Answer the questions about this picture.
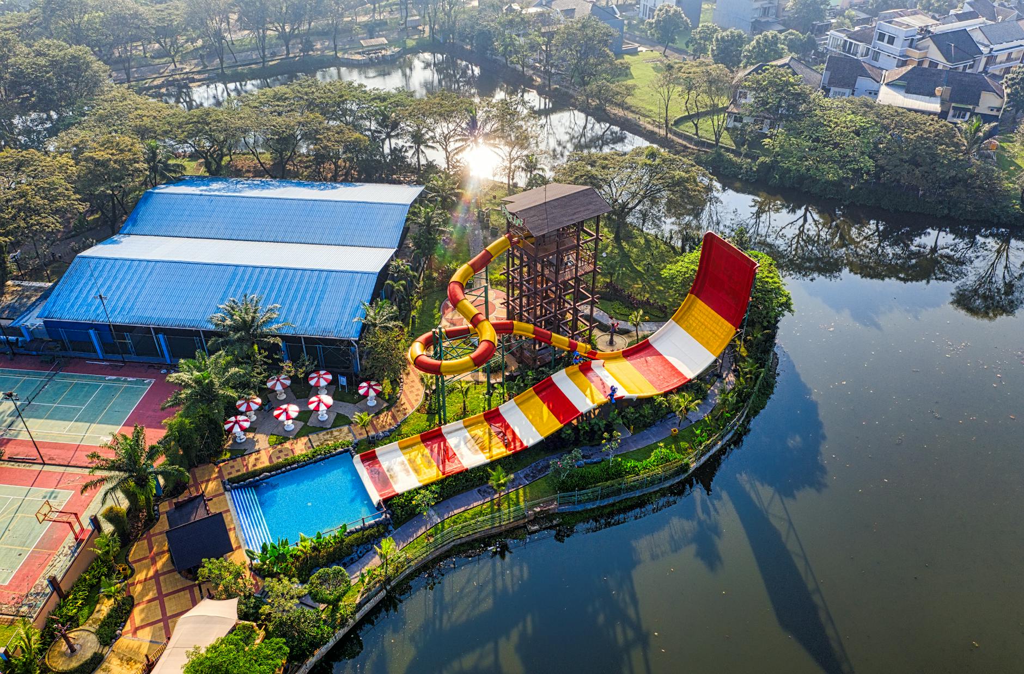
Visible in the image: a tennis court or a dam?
tennis court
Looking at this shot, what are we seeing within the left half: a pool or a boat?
pool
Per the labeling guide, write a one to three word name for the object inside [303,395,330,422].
umbrella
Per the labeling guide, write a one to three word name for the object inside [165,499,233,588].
shed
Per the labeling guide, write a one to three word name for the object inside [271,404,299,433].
umbrella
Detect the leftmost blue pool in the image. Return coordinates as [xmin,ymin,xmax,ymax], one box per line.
[224,447,391,560]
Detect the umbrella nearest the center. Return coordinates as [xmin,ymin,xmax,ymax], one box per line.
[356,381,383,408]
